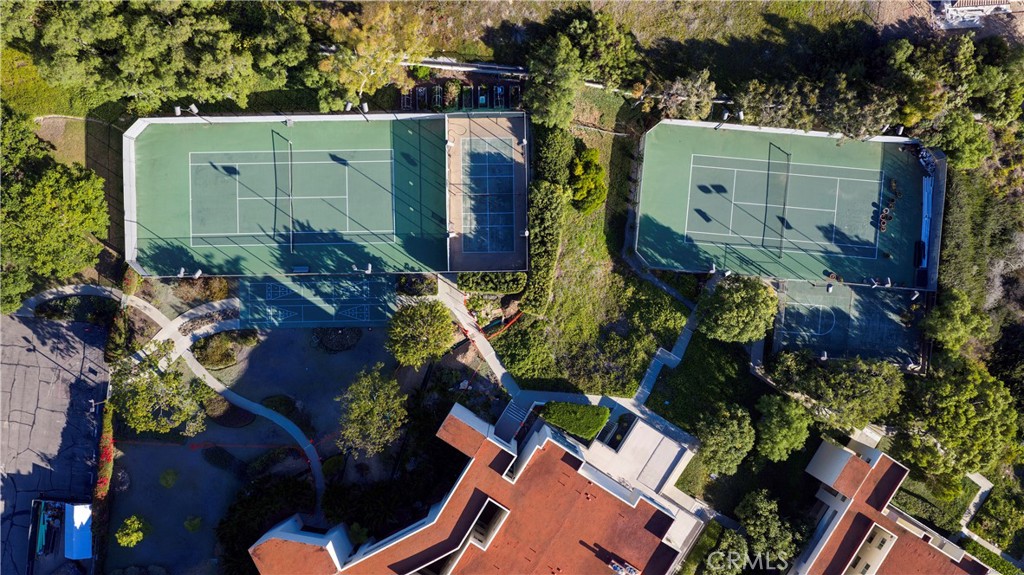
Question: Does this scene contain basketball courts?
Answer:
Yes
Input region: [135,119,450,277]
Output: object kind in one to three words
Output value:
tennis court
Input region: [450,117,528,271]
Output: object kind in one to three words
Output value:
tennis court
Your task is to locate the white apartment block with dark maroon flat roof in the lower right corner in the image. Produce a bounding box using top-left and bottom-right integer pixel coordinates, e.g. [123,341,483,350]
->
[766,438,999,575]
